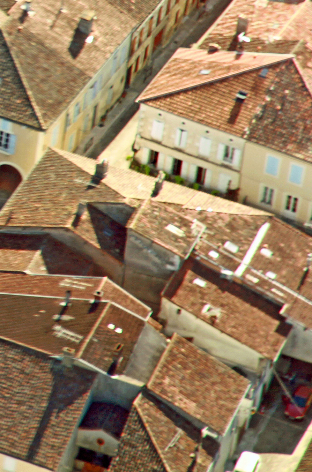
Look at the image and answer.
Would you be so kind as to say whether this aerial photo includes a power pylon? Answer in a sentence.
No, there isn't any power pylon down there.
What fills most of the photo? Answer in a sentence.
The bulk of the photo consists of buildings.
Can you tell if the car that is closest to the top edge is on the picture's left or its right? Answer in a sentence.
The car that is closest to the top edge appears in the right half of the scene.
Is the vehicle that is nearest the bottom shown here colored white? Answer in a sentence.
Yes, the vehicle that is nearest the bottom is white.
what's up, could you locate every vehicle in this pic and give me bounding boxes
[283,379,312,421]
[233,444,263,472]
